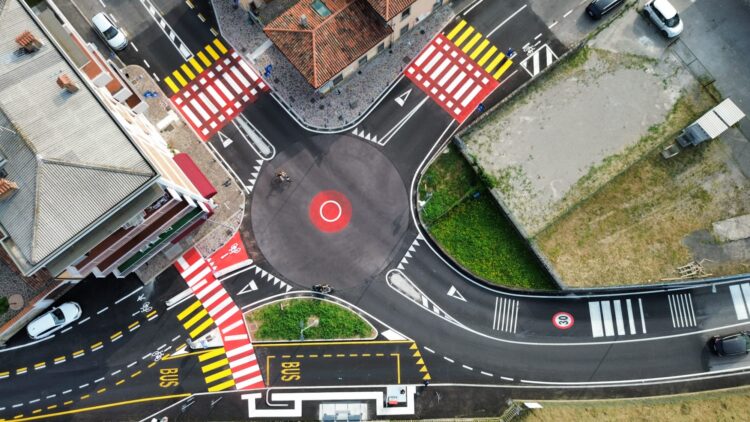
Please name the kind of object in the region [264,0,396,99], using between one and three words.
house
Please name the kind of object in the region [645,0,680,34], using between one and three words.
car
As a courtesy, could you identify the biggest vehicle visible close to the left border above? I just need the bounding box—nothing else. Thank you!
[24,303,79,340]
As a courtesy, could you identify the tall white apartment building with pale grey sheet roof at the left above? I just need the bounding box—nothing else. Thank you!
[0,0,223,284]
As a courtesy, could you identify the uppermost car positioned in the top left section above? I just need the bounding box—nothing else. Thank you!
[90,10,127,49]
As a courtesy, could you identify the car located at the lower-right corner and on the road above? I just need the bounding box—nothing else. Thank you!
[710,333,750,360]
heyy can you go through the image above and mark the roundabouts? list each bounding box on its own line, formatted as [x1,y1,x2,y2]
[250,134,411,293]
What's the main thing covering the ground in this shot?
paved ground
